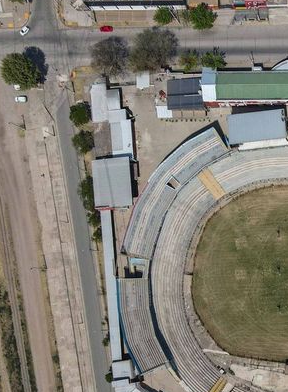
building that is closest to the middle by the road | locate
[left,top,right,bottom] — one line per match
[92,156,138,211]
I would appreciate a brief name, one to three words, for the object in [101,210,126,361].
shed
